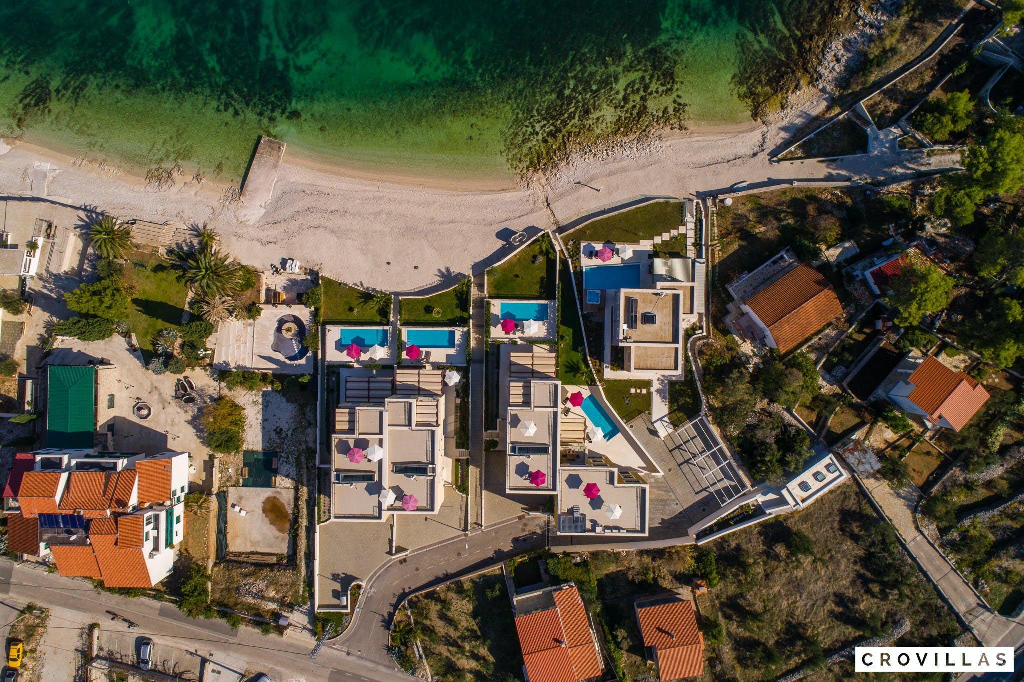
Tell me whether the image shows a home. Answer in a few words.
Yes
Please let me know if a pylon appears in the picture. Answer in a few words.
Yes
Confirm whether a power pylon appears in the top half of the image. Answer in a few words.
No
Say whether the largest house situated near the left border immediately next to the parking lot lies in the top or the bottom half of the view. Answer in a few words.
bottom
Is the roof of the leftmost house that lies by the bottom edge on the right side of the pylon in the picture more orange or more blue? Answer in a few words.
orange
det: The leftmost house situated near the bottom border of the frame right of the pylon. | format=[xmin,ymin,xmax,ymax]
[512,576,606,682]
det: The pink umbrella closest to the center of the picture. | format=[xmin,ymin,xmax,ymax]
[501,318,516,335]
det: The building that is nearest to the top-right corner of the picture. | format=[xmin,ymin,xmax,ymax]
[855,246,947,296]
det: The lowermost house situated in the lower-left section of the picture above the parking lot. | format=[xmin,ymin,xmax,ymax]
[2,449,191,587]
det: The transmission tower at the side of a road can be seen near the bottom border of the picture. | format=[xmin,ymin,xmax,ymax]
[304,622,335,661]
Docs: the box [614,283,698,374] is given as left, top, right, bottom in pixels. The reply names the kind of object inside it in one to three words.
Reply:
house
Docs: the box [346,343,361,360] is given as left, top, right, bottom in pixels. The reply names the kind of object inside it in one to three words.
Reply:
umbrella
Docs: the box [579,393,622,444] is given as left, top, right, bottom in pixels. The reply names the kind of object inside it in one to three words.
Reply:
swimming pool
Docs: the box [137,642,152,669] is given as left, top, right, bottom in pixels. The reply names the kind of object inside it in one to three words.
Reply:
car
